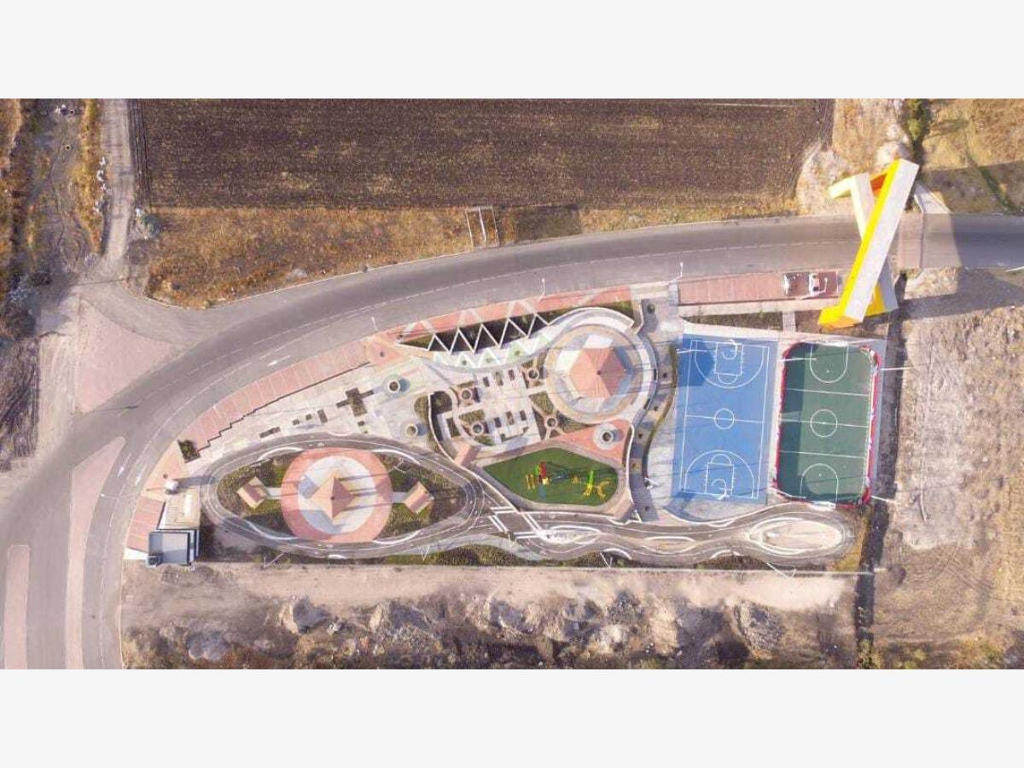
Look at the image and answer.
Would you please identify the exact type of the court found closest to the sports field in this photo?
basketball court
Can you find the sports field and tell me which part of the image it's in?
right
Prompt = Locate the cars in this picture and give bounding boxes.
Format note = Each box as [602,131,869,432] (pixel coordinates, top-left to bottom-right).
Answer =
[808,273,820,296]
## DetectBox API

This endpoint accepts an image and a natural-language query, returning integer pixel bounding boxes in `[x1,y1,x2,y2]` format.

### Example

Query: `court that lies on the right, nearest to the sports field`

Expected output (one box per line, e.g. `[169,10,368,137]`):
[665,334,779,520]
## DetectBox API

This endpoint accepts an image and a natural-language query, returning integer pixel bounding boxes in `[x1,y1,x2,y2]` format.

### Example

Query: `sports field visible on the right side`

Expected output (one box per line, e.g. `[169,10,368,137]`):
[778,343,881,508]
